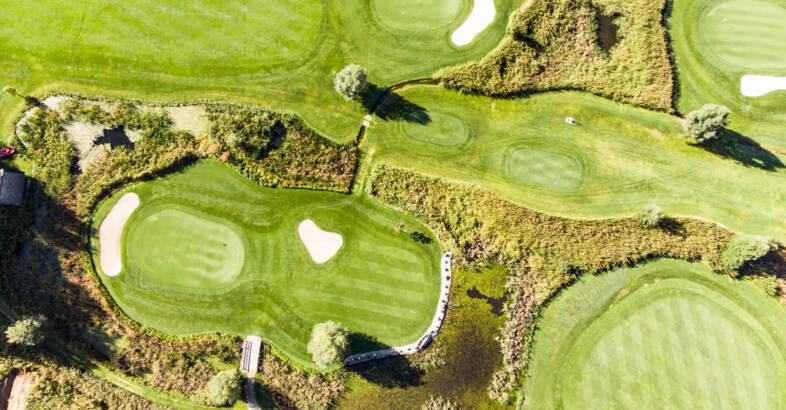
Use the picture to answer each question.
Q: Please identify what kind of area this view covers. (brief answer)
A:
golf course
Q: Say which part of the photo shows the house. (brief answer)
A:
left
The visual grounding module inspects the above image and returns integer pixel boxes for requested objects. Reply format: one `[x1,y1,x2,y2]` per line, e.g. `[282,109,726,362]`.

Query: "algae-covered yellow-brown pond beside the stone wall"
[339,256,511,410]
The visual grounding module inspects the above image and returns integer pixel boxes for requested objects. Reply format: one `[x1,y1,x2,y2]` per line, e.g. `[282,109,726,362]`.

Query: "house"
[0,170,35,206]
